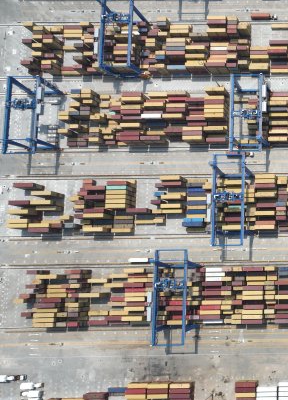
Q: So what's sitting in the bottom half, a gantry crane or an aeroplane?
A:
gantry crane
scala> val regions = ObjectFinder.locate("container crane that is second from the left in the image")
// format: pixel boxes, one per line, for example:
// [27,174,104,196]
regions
[95,0,152,78]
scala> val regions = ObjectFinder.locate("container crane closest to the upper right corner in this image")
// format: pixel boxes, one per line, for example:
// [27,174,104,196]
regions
[229,74,273,151]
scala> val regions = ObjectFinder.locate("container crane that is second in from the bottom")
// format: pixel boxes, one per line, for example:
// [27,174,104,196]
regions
[207,154,256,245]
